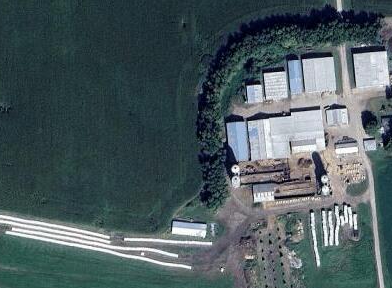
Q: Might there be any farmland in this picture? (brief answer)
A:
Yes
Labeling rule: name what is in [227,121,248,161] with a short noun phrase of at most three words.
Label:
barn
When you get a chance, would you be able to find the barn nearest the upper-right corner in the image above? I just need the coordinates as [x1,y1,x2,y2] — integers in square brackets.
[353,51,389,89]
